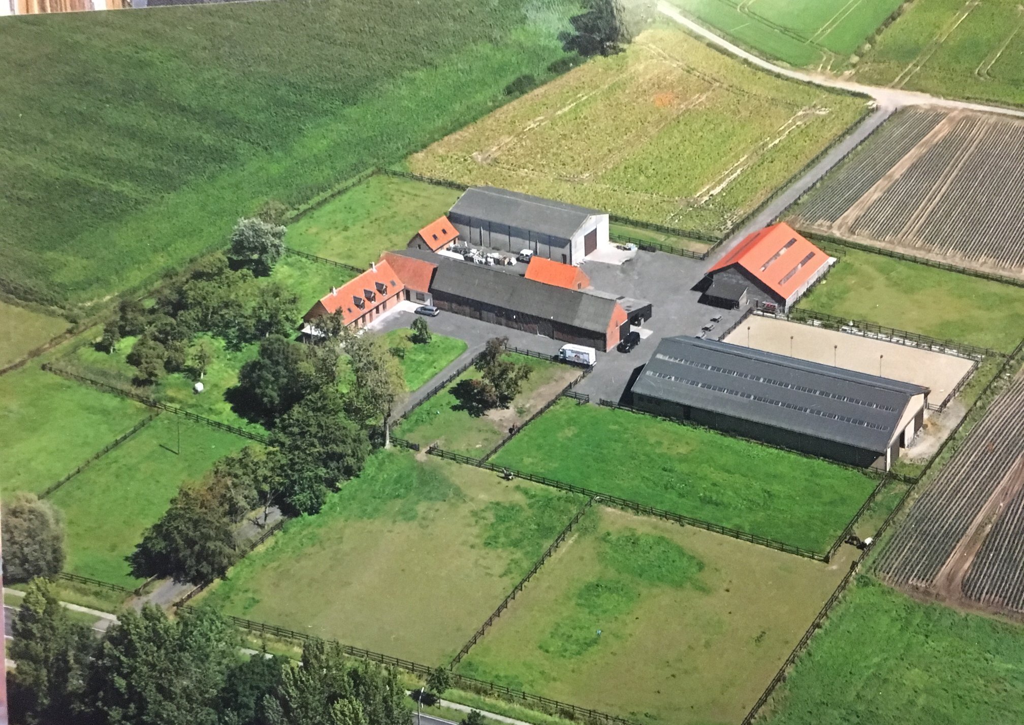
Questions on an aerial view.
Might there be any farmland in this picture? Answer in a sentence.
Yes, farmland shows up in the scene.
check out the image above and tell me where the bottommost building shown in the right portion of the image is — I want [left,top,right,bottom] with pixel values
[631,335,931,467]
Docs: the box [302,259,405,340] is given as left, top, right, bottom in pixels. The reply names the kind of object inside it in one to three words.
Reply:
house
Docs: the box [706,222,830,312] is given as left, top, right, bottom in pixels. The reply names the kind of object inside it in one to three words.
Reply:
barn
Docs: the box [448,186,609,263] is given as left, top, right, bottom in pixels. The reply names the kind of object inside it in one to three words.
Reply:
building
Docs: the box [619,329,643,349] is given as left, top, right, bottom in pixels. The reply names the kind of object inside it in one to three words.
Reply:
car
